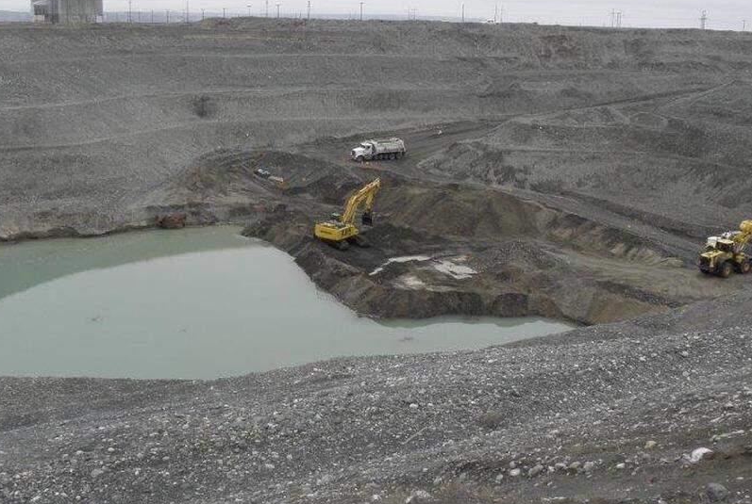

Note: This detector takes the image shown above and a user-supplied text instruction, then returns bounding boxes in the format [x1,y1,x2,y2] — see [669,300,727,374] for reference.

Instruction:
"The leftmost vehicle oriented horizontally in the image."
[348,138,409,160]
